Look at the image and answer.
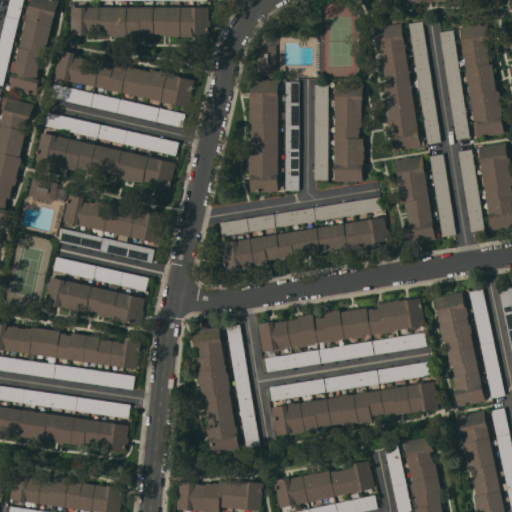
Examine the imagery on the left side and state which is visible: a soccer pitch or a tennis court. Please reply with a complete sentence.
There is a tennis court on the left side.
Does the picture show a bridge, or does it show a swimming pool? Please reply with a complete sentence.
The image shows a swimming pool.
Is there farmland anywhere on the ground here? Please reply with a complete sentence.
No, no farmland is visible.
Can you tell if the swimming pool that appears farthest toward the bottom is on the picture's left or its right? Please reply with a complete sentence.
It is on the left.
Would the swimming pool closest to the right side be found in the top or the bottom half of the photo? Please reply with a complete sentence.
You can find the swimming pool closest to the right side in the top half.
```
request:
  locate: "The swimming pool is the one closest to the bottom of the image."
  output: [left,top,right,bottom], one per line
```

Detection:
[22,198,67,235]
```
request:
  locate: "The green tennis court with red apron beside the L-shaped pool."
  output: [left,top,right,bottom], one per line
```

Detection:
[323,5,358,76]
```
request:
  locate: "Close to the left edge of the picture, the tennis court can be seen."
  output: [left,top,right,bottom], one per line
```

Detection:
[7,236,52,302]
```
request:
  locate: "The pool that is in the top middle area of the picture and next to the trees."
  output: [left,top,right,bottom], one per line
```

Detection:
[280,38,322,78]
